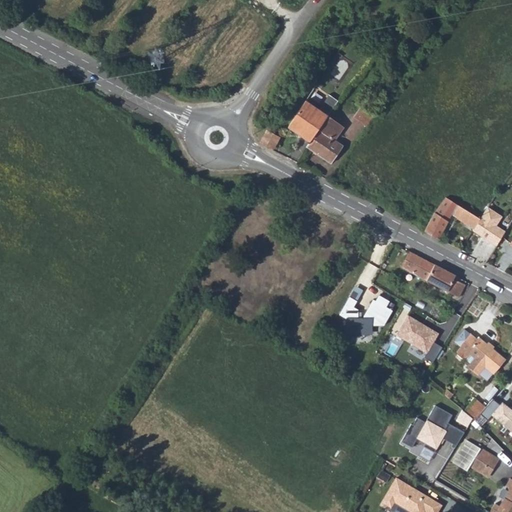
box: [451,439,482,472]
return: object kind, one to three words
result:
greenhouse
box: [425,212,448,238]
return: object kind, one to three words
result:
barn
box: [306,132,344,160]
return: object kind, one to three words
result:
house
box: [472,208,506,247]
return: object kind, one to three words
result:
house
